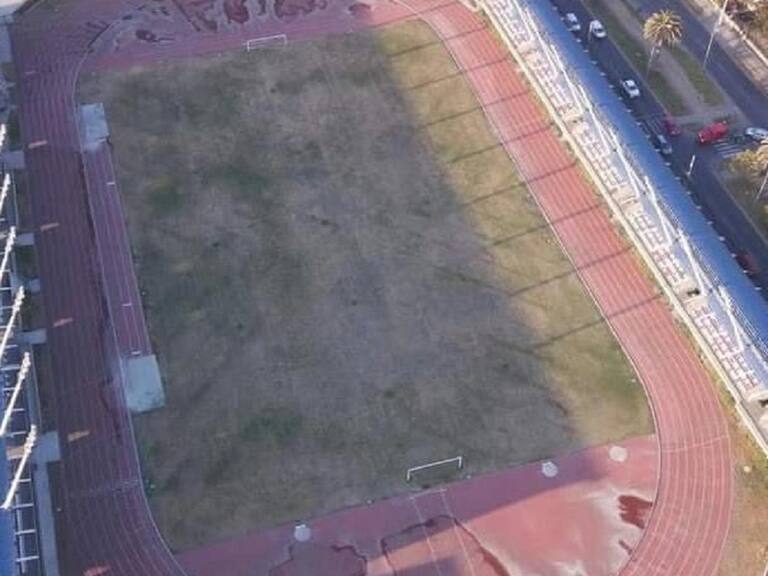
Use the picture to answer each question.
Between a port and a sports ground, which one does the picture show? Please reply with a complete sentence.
This looks like a sports ground.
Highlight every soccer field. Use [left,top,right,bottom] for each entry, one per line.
[76,21,656,553]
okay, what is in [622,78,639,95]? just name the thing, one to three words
car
